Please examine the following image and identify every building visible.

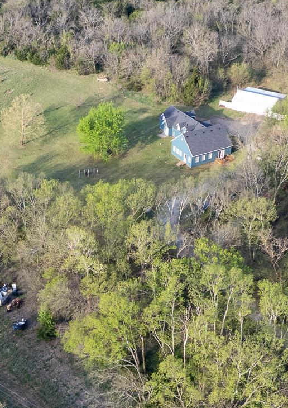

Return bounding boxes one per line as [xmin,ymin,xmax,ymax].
[230,82,281,116]
[154,101,236,168]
